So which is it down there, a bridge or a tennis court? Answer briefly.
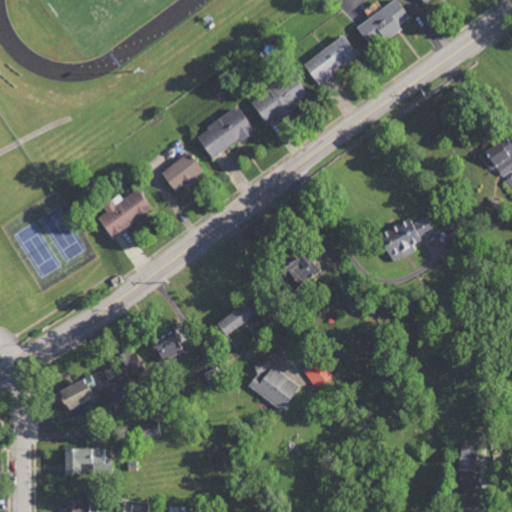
tennis court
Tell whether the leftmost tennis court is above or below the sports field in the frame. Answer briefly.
below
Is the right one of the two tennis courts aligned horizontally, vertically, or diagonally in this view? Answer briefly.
diagonally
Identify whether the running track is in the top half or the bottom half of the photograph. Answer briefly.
top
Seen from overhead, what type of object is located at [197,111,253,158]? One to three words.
house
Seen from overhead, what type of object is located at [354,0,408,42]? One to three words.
house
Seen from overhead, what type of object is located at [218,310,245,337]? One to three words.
building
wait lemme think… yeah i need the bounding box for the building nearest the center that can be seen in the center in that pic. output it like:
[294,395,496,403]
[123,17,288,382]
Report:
[284,253,322,287]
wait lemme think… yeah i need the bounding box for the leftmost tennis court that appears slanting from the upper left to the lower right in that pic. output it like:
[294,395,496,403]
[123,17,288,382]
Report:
[14,224,61,278]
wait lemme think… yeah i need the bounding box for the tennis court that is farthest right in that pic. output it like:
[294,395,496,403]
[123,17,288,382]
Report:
[40,208,86,262]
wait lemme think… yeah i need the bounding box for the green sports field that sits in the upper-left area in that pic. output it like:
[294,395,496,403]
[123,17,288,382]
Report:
[5,0,182,62]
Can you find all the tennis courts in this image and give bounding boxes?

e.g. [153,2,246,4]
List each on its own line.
[40,208,86,262]
[14,224,61,278]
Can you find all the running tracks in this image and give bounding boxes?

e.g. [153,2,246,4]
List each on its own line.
[0,0,216,82]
